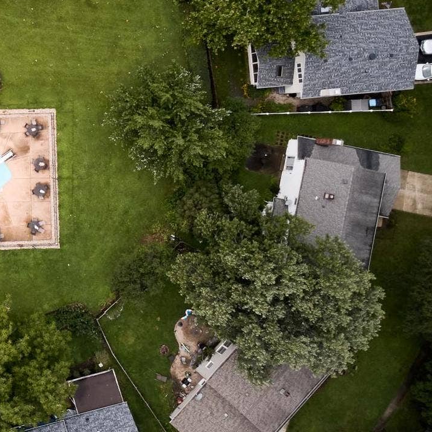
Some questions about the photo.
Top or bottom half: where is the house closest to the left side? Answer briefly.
bottom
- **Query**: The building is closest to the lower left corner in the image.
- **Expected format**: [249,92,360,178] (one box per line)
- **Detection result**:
[33,365,139,432]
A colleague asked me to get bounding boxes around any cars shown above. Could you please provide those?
[415,63,432,82]
[418,39,432,56]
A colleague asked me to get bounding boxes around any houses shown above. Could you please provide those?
[164,337,330,432]
[244,0,419,100]
[263,135,401,269]
[33,365,139,432]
